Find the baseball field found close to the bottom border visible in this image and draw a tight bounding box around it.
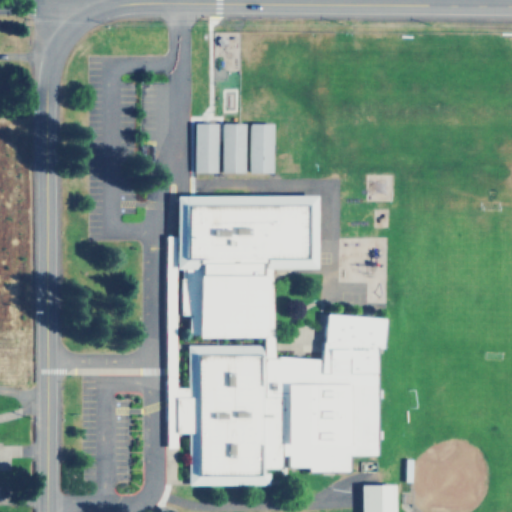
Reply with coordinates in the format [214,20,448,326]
[413,439,489,512]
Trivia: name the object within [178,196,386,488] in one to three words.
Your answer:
building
